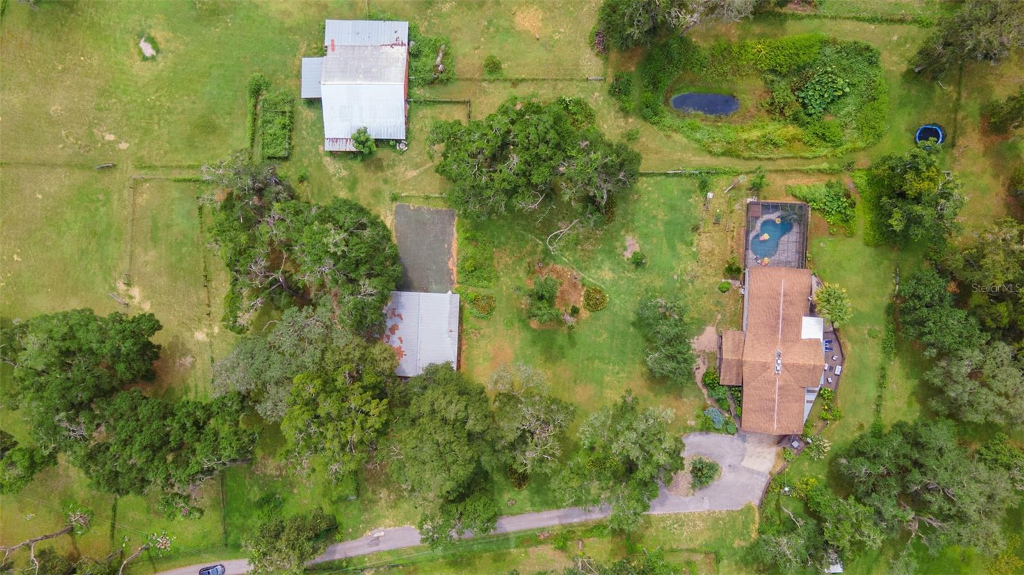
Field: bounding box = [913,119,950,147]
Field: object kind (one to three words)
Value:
trampoline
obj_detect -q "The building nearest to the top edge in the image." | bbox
[301,20,410,152]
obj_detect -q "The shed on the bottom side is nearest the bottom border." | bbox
[821,548,843,573]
